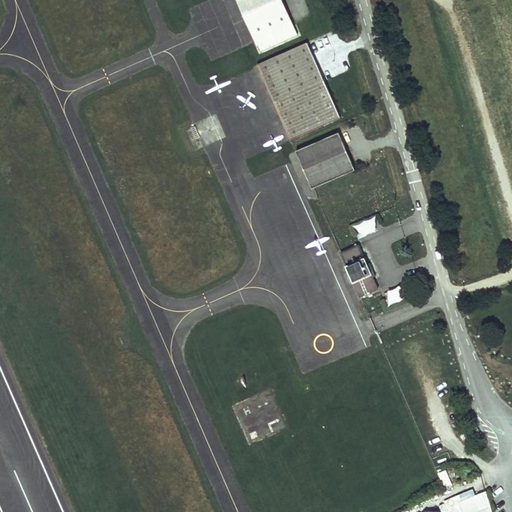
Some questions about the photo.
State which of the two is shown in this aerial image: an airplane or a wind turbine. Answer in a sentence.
It is an airplane that can be seen here.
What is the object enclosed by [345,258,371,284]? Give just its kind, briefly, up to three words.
building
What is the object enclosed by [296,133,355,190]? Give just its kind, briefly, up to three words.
hangar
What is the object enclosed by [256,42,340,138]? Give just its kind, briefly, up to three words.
hangar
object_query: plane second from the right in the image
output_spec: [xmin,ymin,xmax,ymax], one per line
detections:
[262,134,284,153]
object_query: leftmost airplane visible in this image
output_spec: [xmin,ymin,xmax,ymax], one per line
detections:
[206,74,231,94]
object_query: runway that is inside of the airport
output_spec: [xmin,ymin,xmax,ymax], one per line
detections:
[0,340,73,512]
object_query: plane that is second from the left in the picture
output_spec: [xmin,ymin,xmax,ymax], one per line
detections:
[236,90,257,111]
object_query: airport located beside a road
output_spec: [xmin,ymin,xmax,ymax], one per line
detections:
[0,0,368,512]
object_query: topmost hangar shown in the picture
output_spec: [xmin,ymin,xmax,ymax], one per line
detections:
[235,0,300,55]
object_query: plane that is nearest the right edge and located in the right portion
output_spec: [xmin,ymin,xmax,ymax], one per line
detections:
[304,236,330,256]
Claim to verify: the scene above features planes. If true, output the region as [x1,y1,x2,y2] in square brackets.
[304,236,330,256]
[262,134,284,153]
[206,74,231,94]
[236,90,257,111]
